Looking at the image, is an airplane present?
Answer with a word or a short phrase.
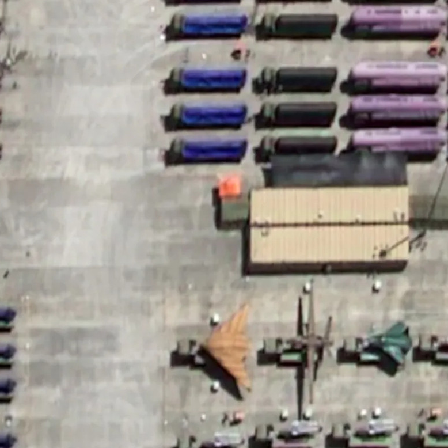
Yes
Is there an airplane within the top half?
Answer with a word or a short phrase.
No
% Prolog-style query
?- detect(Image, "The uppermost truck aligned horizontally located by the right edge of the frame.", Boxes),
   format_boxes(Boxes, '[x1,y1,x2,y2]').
[352,5,448,31]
